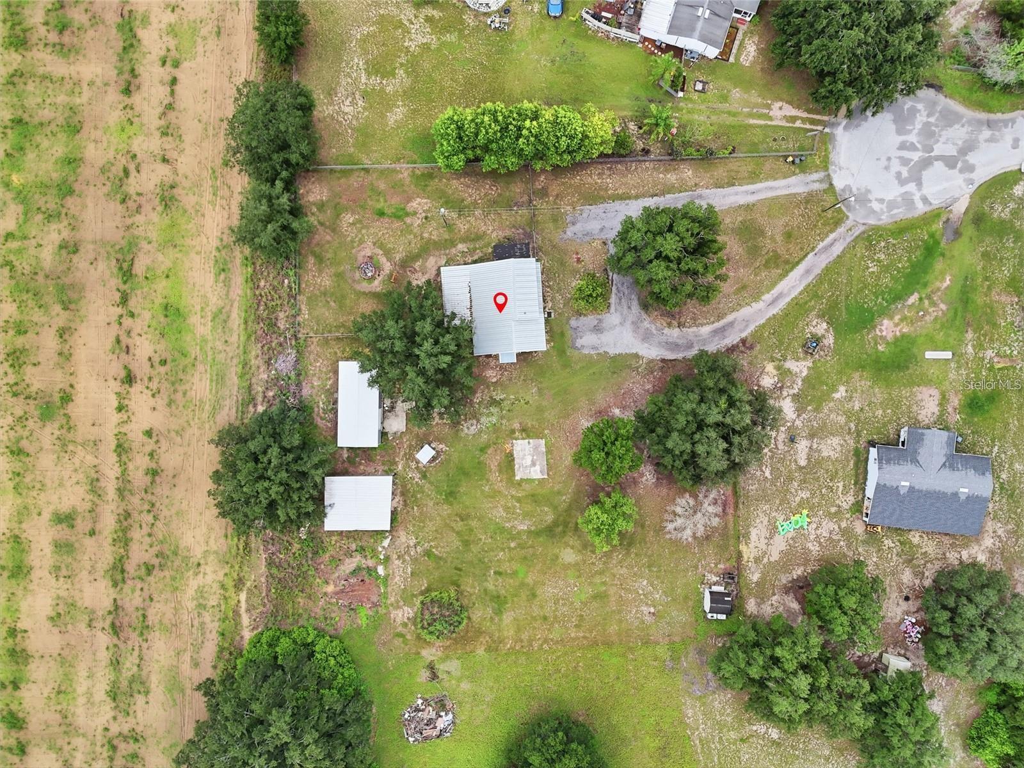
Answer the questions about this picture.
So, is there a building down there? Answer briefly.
Yes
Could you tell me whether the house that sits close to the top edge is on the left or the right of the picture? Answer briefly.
right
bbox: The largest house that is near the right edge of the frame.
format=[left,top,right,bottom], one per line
[858,427,994,536]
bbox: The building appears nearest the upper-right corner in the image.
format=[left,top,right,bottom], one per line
[640,0,760,59]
